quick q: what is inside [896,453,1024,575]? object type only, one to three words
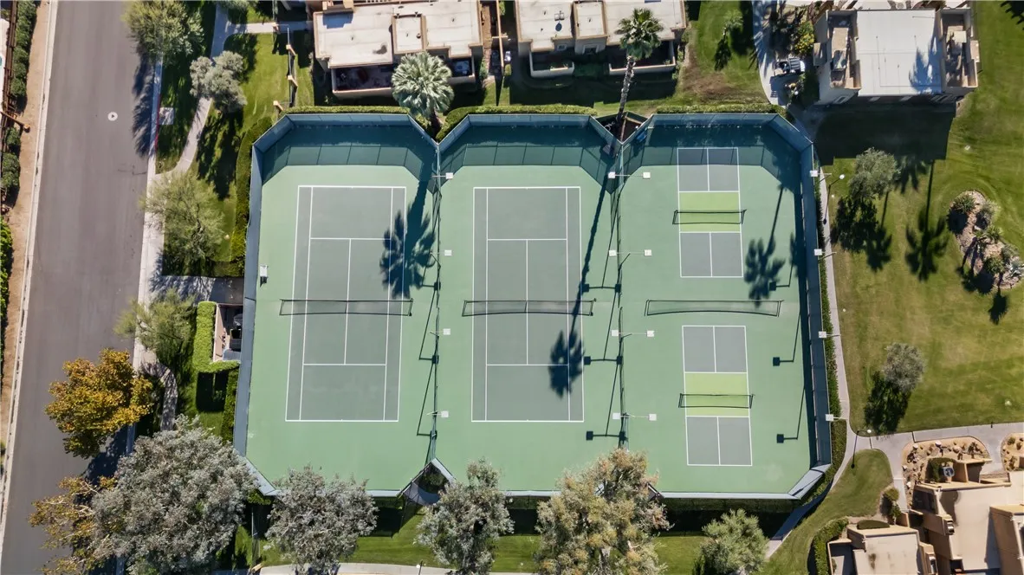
house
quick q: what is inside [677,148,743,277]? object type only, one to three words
sports court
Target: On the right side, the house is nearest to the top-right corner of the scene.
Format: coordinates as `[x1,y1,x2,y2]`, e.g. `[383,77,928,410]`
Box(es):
[809,8,980,114]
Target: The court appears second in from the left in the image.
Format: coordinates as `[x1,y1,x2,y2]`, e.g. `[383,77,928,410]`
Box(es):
[439,126,621,491]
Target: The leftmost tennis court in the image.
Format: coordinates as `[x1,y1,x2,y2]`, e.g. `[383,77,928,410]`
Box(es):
[247,126,442,492]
